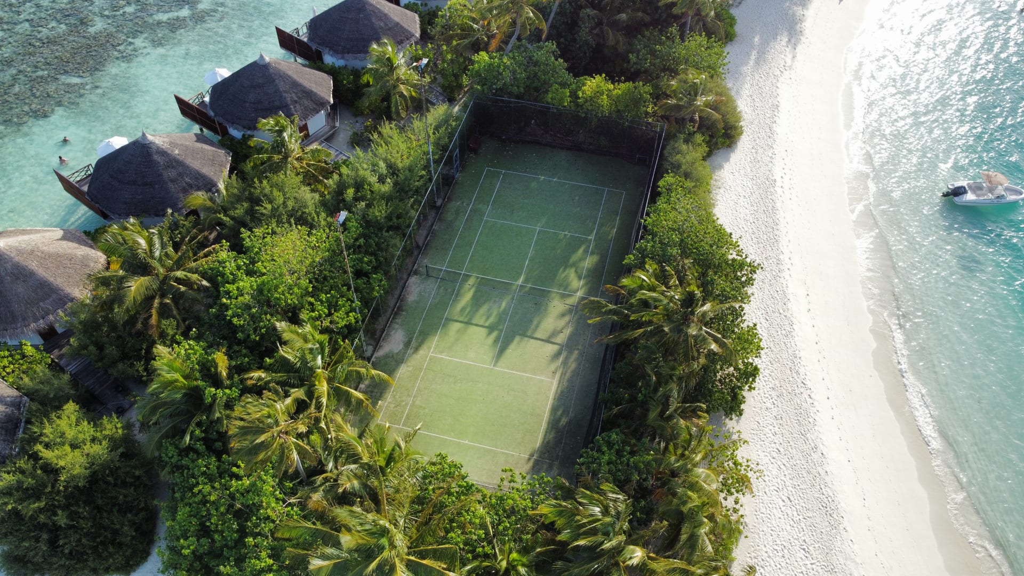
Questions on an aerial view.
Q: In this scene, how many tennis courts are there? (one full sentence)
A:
I count just 1 tennis court.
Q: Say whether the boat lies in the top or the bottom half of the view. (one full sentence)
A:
Seen from above, the boat lies in the top half of the view.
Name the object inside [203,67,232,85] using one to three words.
umbrella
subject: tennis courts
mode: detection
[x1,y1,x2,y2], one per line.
[330,134,647,492]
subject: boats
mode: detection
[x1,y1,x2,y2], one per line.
[940,172,1024,206]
